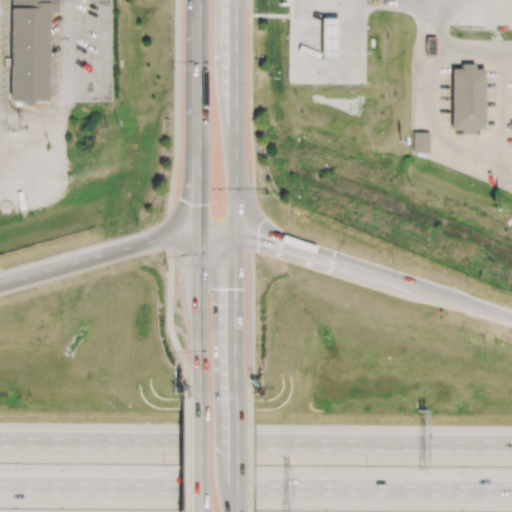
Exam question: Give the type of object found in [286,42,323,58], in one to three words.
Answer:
vehicle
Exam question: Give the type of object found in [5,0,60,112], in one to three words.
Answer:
building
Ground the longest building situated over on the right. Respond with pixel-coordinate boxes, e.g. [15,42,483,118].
[456,64,486,134]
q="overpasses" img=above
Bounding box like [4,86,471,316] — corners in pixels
[182,386,258,512]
